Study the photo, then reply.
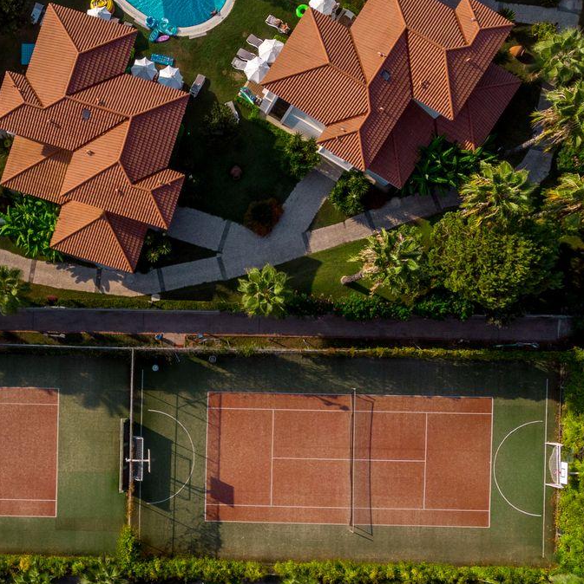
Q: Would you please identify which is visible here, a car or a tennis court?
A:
tennis court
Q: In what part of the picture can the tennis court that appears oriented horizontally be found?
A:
bottom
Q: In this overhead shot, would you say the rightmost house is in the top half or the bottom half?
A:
top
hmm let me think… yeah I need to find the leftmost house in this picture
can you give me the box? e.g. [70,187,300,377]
[0,1,192,273]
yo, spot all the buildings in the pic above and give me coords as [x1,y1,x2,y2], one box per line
[0,1,192,273]
[261,0,523,206]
